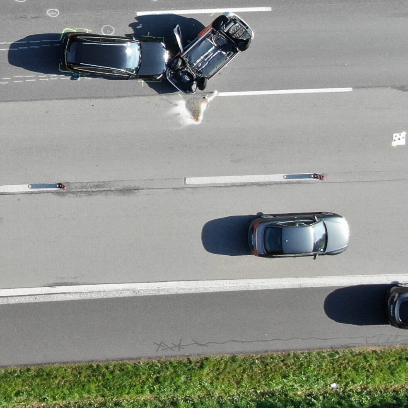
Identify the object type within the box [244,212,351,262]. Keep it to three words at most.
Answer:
car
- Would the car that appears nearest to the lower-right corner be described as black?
Yes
